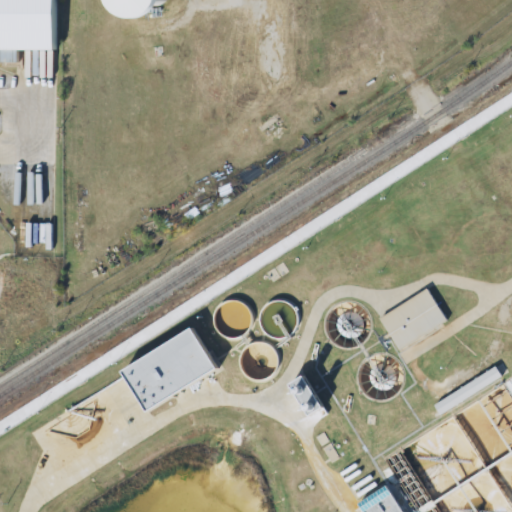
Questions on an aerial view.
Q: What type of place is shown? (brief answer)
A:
industrial area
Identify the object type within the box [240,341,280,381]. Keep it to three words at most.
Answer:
storage tank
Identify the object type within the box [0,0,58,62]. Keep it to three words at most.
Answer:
building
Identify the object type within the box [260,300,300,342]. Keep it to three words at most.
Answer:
storage tank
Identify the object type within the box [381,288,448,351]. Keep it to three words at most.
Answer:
shed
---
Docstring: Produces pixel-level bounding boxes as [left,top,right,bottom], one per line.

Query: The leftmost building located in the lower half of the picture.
[120,328,218,410]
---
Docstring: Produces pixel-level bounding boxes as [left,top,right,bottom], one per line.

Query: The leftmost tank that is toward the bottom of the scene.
[214,300,254,340]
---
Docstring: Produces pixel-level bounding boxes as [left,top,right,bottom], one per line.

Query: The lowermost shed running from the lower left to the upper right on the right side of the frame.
[434,368,502,420]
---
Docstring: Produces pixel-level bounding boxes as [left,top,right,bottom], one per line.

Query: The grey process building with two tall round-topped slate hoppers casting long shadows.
[289,375,330,416]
